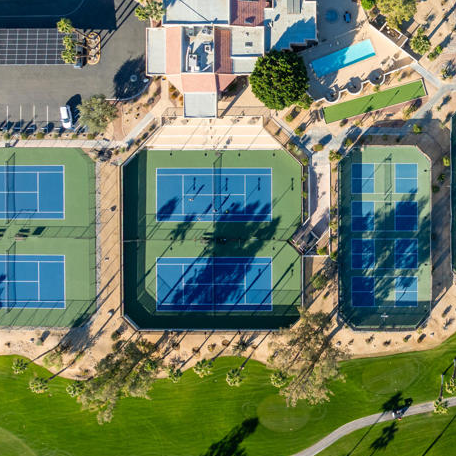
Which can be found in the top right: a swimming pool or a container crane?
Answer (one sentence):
The feature located in the top right is a swimming pool.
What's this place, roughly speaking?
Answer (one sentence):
What you see here is a sports ground.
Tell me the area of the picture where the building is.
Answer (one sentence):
Look in the top portion of the view to spot the building.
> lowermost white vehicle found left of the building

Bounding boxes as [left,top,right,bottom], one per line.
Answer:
[59,105,74,130]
